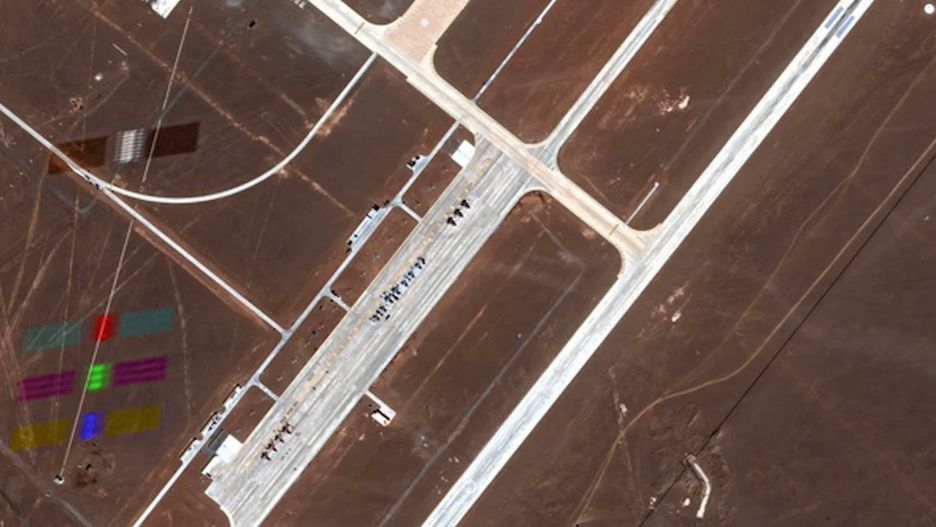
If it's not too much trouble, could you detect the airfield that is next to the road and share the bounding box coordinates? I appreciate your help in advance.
[205,0,875,527]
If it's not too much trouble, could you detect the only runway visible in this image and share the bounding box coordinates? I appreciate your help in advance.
[420,0,875,527]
